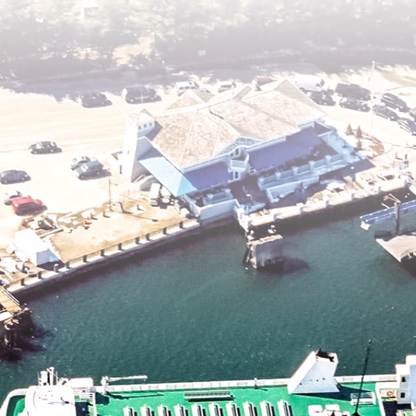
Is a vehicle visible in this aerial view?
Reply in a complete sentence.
Yes, there's a vehicle down there.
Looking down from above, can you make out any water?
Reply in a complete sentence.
Yes, there is water in the image.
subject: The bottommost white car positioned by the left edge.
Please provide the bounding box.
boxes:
[0,191,31,206]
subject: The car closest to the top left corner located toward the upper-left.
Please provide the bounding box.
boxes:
[78,93,111,107]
